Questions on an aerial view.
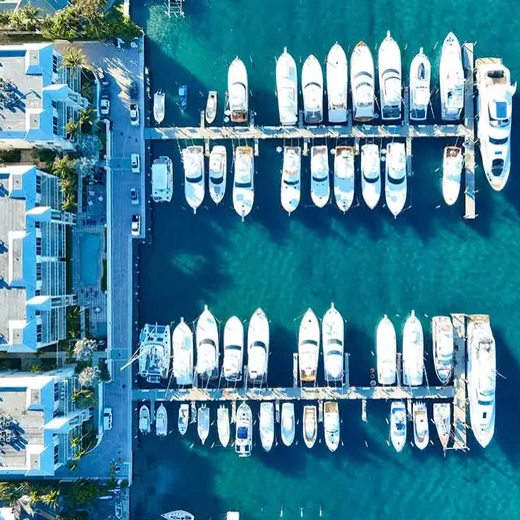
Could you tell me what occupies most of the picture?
water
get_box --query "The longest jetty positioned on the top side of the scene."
[145,43,478,218]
